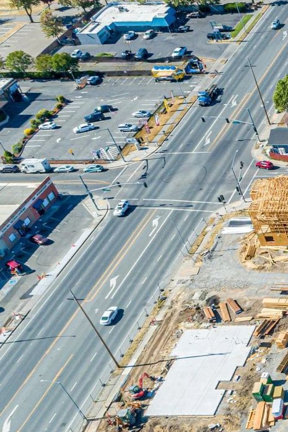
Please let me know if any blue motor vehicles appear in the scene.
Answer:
Yes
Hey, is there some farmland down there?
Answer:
No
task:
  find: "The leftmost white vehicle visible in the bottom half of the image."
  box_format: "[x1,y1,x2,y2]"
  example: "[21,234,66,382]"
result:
[99,307,118,325]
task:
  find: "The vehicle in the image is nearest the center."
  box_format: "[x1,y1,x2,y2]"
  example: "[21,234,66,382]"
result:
[113,199,131,215]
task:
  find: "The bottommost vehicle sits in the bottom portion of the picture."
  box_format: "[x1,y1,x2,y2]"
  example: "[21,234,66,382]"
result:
[101,397,152,431]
